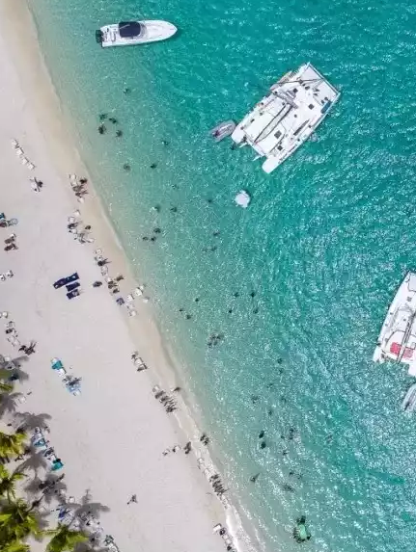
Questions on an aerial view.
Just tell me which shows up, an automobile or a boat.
boat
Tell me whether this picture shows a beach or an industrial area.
beach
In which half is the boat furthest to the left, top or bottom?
top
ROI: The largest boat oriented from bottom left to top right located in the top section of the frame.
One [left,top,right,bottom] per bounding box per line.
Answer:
[234,62,340,172]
